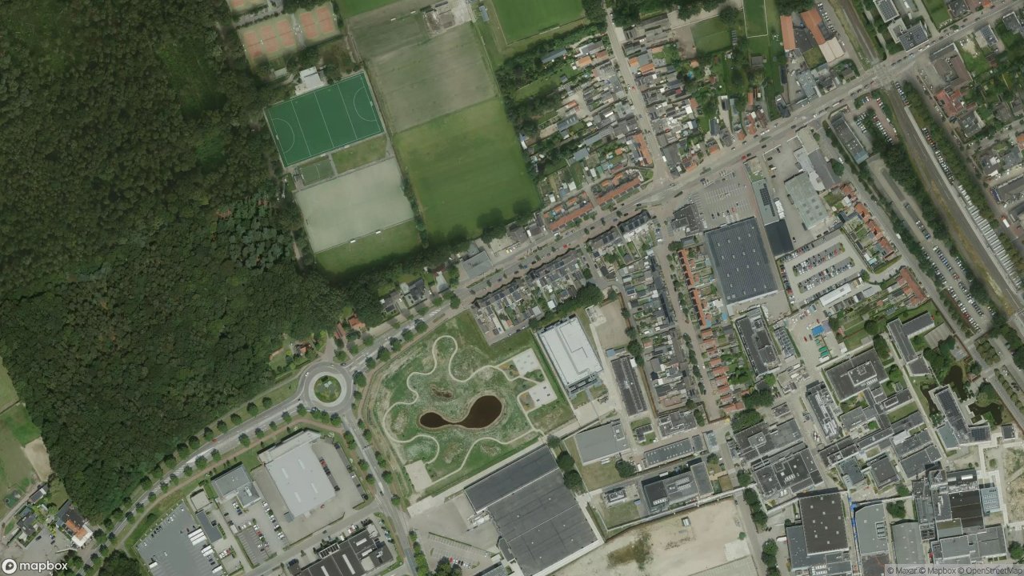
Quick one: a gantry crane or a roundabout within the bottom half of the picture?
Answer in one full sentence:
What appears within the bottom half of the picture is a roundabout.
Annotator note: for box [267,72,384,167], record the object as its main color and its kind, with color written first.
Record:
green sports field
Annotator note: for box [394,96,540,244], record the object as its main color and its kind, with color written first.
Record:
green soccer field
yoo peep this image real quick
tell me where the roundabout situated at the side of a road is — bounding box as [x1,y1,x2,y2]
[301,363,354,415]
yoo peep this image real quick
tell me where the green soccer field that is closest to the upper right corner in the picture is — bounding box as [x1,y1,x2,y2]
[495,0,584,44]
